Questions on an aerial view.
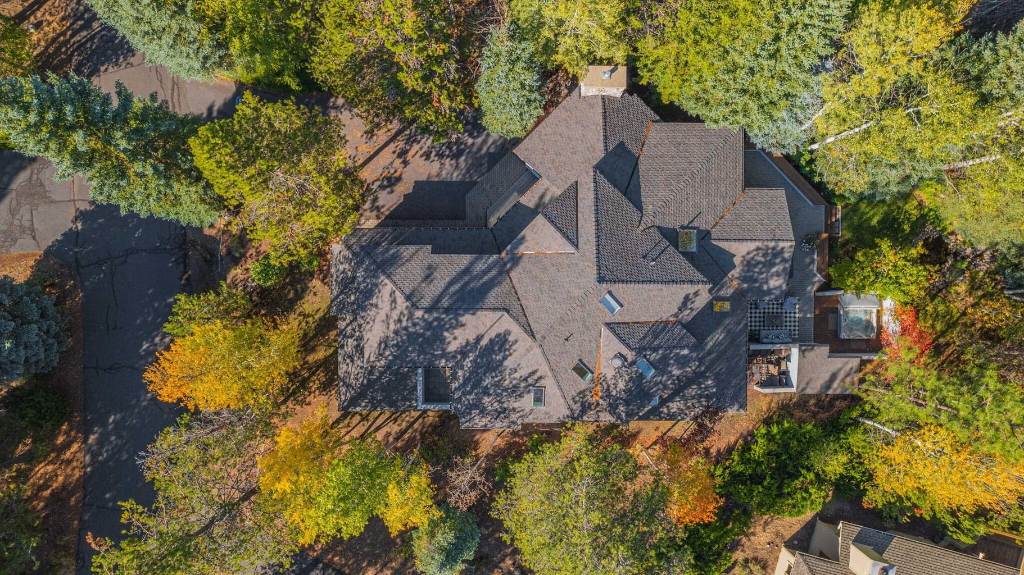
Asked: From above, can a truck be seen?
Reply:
No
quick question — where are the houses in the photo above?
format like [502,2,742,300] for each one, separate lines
[329,67,794,431]
[773,515,1022,575]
